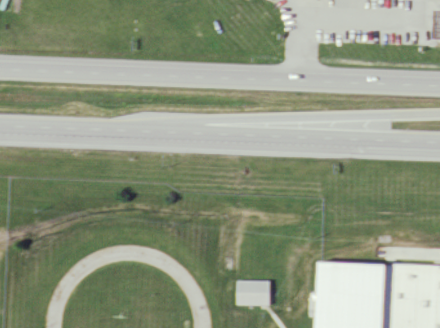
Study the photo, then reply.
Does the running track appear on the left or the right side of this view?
left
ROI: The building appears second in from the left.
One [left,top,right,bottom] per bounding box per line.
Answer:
[309,262,386,328]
